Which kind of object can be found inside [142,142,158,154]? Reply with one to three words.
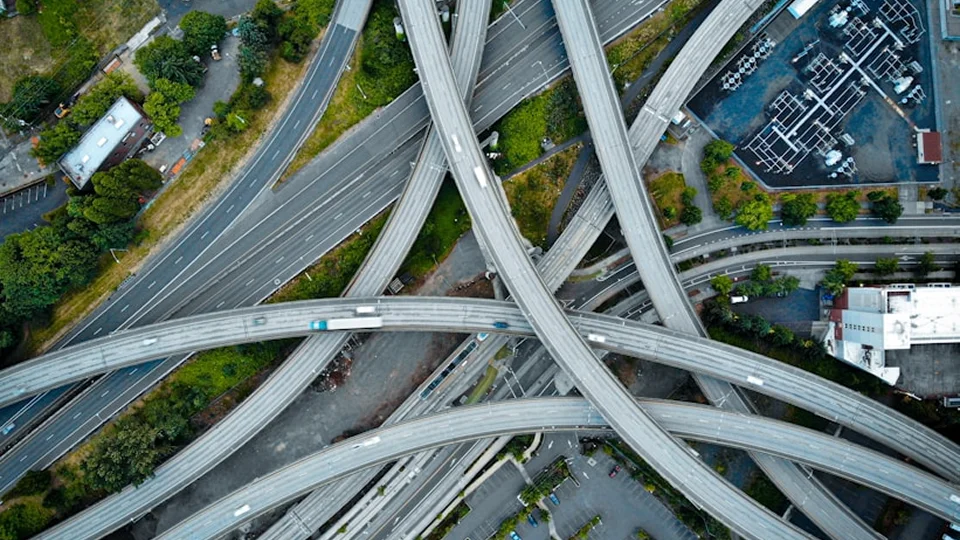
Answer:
vehicle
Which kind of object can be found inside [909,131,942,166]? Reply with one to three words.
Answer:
shed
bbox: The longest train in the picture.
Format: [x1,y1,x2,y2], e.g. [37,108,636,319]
[418,338,480,398]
